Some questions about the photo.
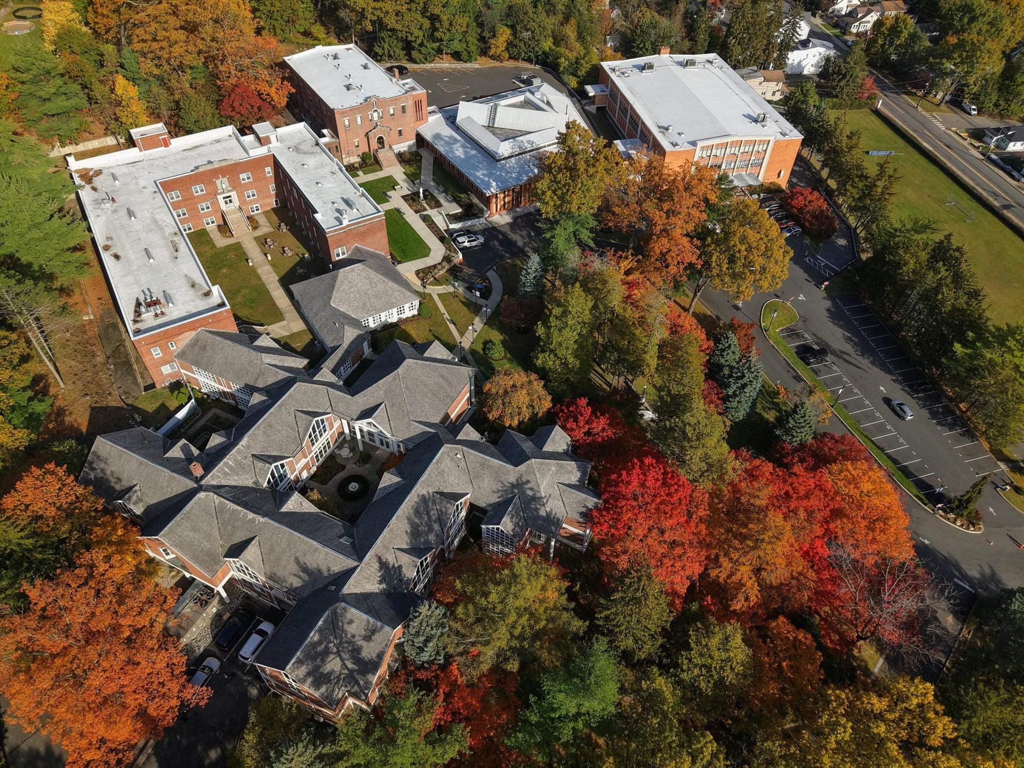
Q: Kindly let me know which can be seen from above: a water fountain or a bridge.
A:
water fountain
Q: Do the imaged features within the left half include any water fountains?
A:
Yes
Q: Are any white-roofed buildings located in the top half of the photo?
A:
Yes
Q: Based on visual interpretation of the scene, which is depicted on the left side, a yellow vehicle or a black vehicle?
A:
black vehicle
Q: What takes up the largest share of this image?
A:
trees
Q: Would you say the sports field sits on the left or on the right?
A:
right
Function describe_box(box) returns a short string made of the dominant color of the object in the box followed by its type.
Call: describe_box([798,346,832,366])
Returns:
black vehicle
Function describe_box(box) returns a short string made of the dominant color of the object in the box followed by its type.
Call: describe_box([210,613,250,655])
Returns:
black car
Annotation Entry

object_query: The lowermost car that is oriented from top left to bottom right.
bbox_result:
[886,398,919,423]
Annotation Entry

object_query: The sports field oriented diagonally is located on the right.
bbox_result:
[823,108,1024,366]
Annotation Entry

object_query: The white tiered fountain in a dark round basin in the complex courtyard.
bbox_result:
[337,472,369,499]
